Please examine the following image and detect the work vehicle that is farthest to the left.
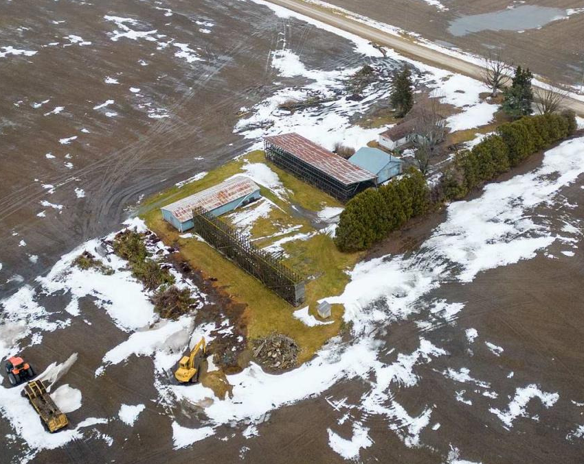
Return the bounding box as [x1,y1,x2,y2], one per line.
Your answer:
[6,357,39,388]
